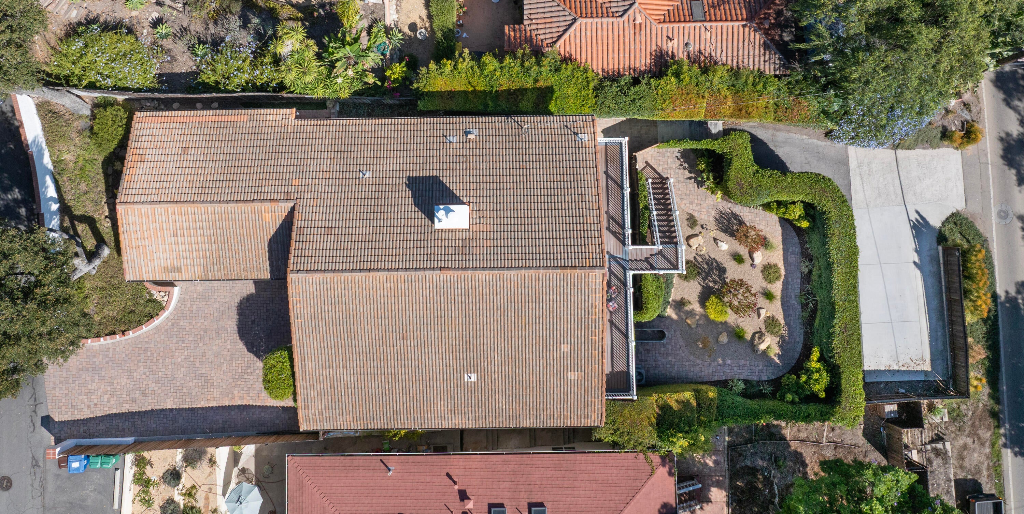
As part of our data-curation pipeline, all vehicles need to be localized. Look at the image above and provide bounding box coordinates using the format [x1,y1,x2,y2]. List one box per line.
[957,489,1005,514]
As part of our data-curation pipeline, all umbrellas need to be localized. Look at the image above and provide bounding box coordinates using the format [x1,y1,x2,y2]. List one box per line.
[222,476,268,514]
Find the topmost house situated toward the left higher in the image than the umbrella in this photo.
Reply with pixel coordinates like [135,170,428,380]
[113,106,609,435]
